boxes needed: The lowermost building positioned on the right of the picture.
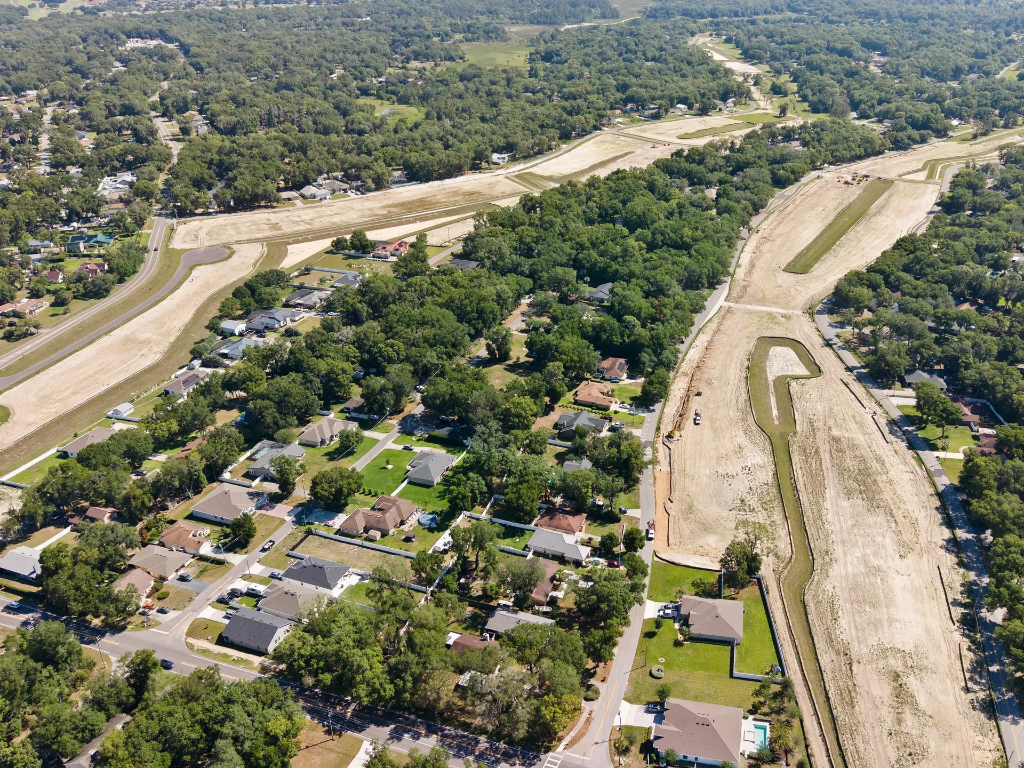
[653,693,739,767]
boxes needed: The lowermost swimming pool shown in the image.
[739,722,768,749]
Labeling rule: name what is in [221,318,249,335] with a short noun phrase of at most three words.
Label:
shed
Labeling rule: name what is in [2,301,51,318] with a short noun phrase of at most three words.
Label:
house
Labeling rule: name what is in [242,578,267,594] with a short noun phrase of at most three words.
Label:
vehicle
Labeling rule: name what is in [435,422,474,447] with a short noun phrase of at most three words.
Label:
house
